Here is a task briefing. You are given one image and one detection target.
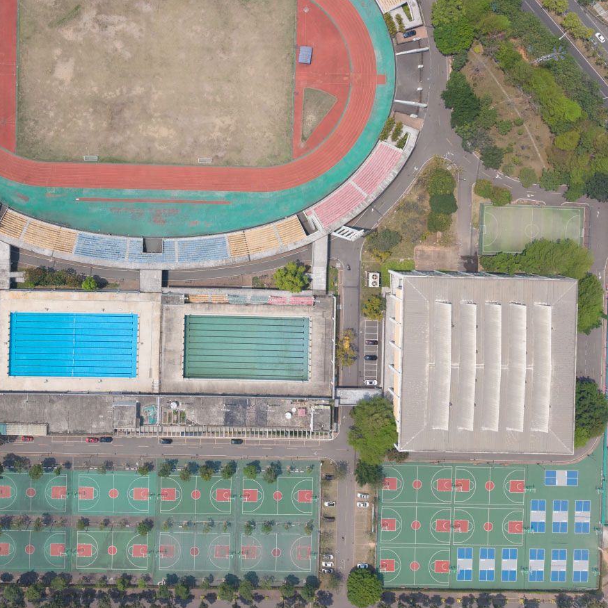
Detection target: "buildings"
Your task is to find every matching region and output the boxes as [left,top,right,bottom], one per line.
[378,268,578,456]
[0,289,340,440]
